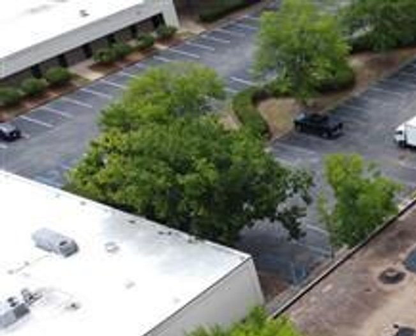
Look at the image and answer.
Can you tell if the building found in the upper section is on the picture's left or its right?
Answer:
left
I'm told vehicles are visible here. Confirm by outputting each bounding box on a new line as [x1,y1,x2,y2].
[391,118,416,148]
[0,119,19,140]
[296,107,350,135]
